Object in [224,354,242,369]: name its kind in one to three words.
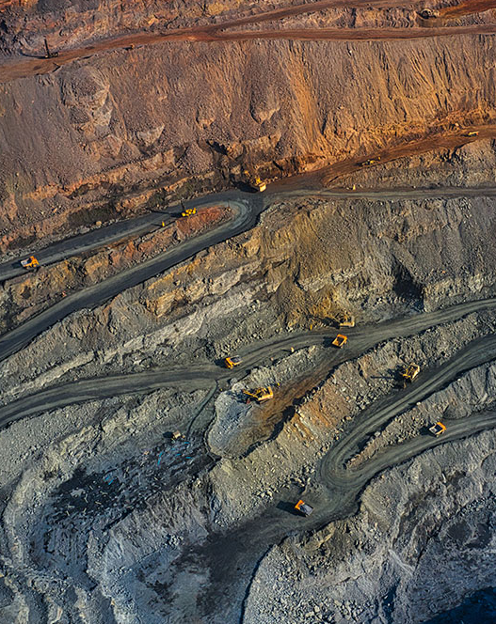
vehicle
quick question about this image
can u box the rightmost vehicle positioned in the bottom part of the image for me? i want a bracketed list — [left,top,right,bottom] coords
[429,418,448,435]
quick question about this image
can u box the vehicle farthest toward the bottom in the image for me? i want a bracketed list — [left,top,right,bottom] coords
[294,500,313,516]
